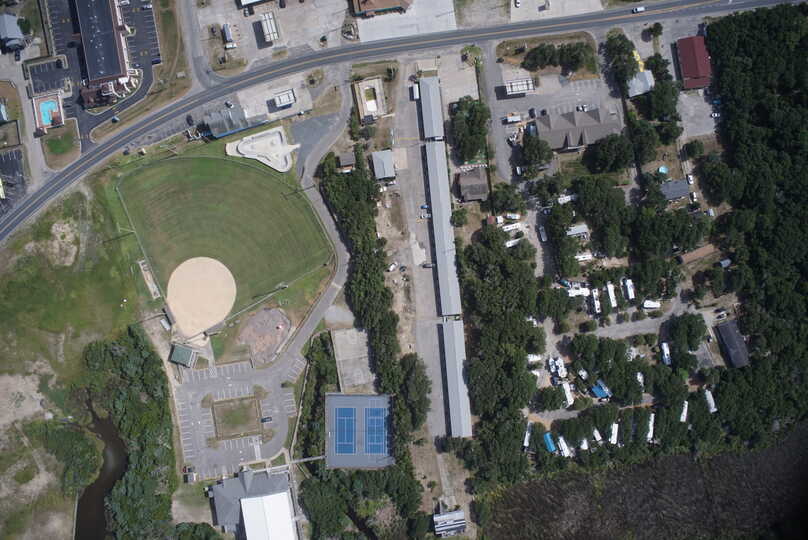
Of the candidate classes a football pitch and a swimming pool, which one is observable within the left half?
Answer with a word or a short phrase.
swimming pool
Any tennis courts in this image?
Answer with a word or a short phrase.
Yes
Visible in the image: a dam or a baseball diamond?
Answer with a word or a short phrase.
baseball diamond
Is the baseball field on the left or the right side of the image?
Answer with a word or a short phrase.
left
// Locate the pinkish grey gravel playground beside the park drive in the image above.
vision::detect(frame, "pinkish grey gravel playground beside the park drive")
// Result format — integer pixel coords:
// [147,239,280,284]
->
[238,309,290,362]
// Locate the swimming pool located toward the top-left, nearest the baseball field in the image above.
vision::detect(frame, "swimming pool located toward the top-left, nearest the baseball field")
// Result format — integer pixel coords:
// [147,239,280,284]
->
[32,94,63,128]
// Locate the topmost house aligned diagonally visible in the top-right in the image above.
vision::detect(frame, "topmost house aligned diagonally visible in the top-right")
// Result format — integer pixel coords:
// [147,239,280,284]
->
[626,71,654,98]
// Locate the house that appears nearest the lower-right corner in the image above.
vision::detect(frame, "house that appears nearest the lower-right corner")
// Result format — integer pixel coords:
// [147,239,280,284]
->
[714,320,750,369]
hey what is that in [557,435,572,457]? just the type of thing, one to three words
vehicle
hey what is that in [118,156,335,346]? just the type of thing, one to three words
baseball field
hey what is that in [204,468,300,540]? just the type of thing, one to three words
building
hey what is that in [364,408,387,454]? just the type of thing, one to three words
tennis court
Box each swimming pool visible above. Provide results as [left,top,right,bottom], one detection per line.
[659,164,669,174]
[32,94,63,128]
